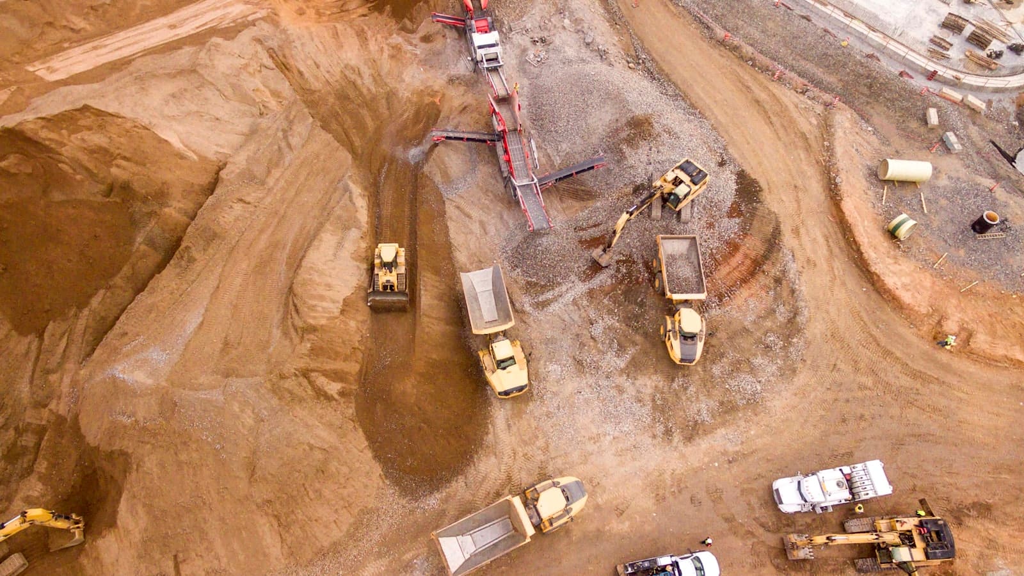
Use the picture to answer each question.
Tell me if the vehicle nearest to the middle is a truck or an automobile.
truck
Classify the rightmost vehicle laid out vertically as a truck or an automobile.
truck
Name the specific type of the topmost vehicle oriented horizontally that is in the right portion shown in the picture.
truck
